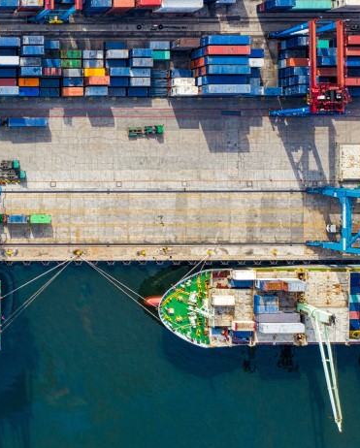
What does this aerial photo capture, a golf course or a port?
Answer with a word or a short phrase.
port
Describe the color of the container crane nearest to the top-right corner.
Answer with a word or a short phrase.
red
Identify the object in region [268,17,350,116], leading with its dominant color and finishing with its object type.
red container crane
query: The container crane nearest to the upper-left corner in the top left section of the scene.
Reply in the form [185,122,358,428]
[26,0,84,25]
